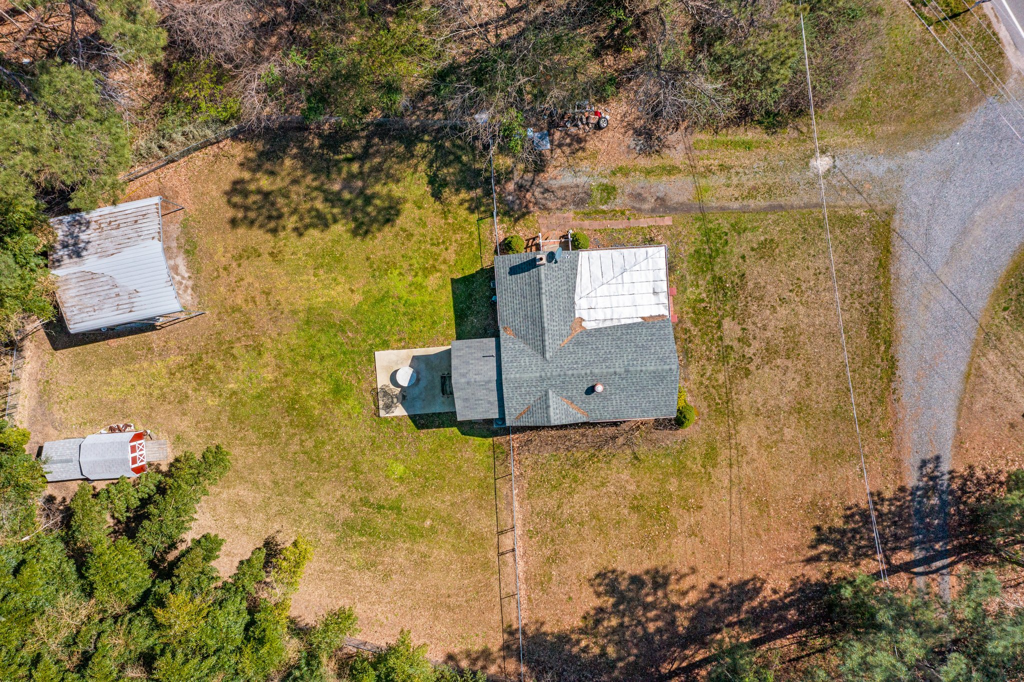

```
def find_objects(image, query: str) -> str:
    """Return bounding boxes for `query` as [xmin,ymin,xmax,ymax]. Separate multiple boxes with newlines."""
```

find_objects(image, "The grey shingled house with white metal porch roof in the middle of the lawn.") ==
[452,243,678,429]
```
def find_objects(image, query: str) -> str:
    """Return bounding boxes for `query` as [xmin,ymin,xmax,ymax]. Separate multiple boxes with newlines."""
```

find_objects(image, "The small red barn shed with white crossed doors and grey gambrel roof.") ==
[36,435,149,489]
